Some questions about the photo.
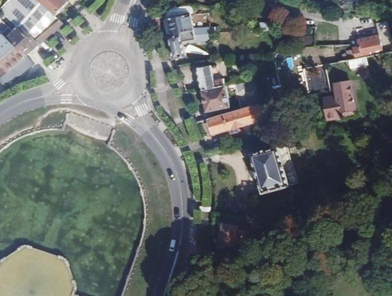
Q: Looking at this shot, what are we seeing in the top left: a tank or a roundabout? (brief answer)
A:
roundabout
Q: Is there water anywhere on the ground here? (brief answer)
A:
Yes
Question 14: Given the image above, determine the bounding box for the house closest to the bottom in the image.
[220,222,238,244]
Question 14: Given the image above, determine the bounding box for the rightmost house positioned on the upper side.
[352,34,383,58]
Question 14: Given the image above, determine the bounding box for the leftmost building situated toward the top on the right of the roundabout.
[166,7,210,61]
